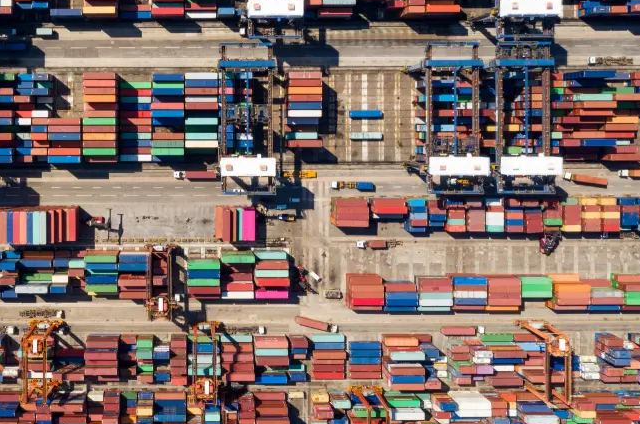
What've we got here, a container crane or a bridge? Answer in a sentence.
I can see a container crane in this picture.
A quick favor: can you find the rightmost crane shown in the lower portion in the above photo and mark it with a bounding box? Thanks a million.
[511,319,570,407]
